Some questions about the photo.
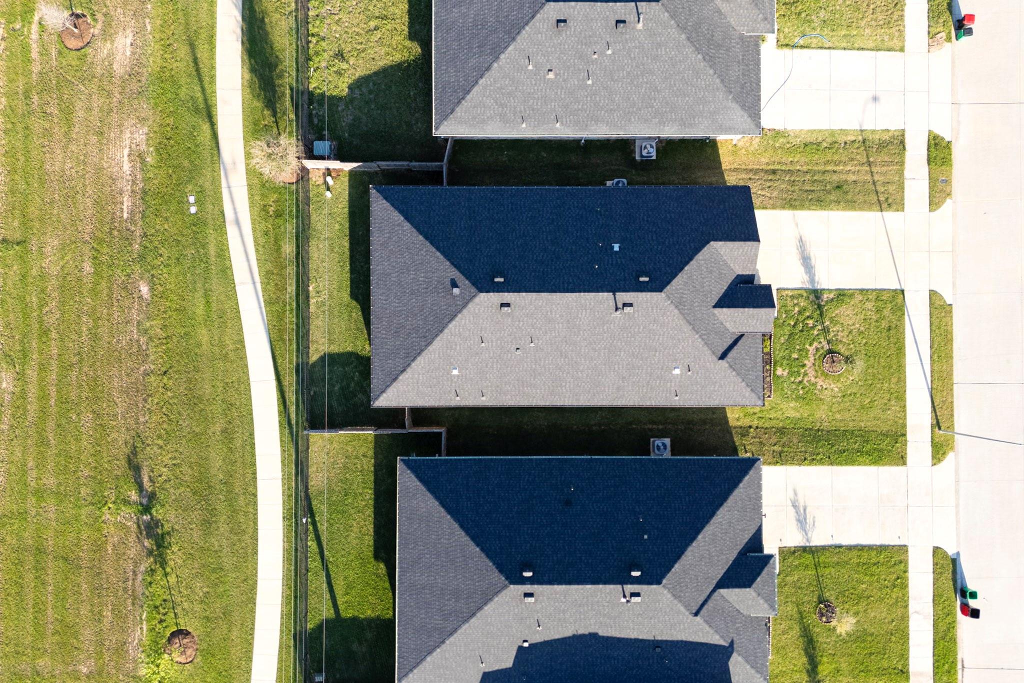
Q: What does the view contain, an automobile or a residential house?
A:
residential house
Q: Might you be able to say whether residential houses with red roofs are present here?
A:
No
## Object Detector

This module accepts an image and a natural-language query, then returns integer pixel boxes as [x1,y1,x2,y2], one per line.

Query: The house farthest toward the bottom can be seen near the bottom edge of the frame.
[398,457,779,683]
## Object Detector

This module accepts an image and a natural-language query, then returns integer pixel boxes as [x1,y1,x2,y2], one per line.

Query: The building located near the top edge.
[433,0,775,146]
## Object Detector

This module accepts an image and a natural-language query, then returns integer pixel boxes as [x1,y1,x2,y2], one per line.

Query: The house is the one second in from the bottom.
[370,186,776,407]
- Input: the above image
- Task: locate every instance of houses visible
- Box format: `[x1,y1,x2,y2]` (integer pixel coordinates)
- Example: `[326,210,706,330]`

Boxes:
[398,457,779,683]
[433,0,775,146]
[370,186,776,407]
